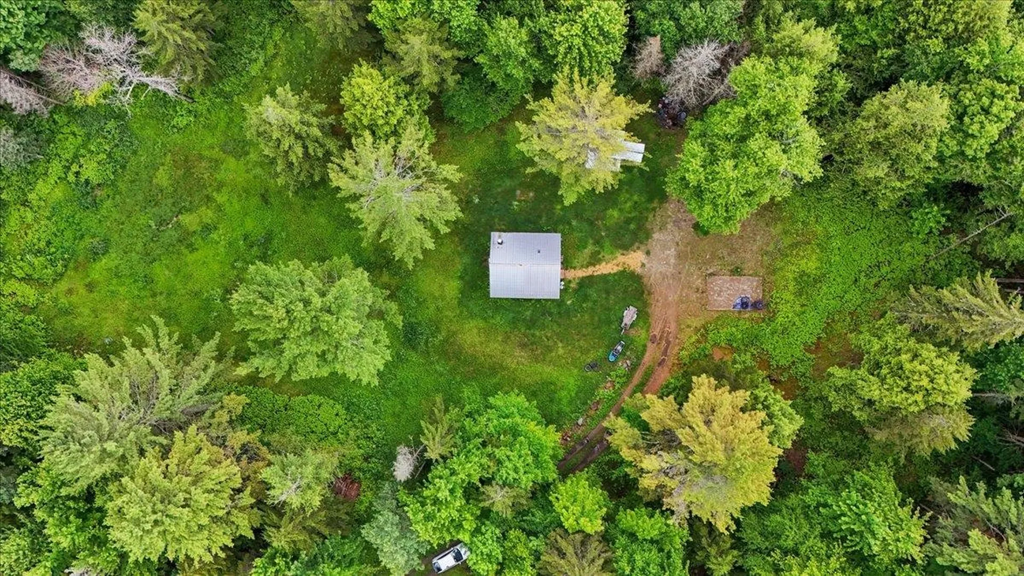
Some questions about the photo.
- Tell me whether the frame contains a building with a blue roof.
No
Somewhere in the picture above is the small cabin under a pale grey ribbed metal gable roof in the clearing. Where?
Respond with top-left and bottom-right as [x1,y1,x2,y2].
[489,232,563,298]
